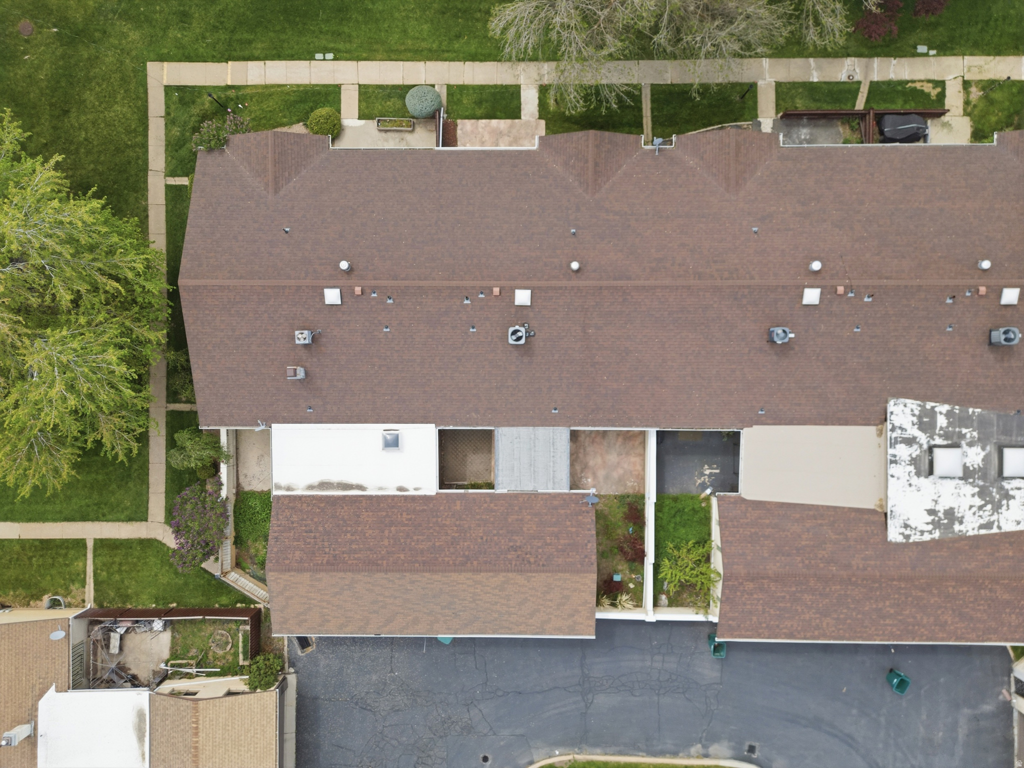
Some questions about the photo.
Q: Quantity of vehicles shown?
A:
0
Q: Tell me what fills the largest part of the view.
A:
buildings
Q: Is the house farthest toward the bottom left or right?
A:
left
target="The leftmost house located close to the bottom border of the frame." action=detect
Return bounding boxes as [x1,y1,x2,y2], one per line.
[0,604,285,768]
